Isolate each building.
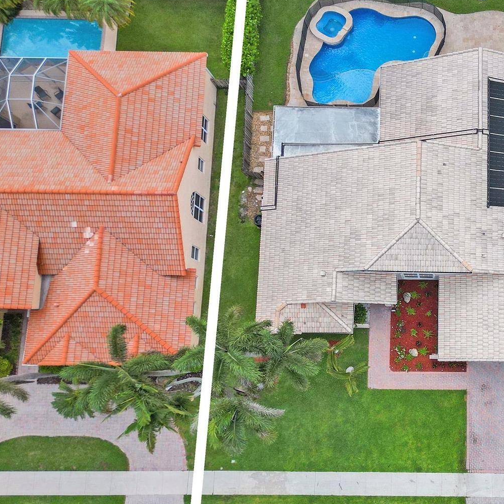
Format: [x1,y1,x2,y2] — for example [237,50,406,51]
[0,48,218,367]
[255,46,504,363]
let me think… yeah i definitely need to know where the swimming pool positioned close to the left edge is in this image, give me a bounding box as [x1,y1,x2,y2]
[0,14,105,89]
